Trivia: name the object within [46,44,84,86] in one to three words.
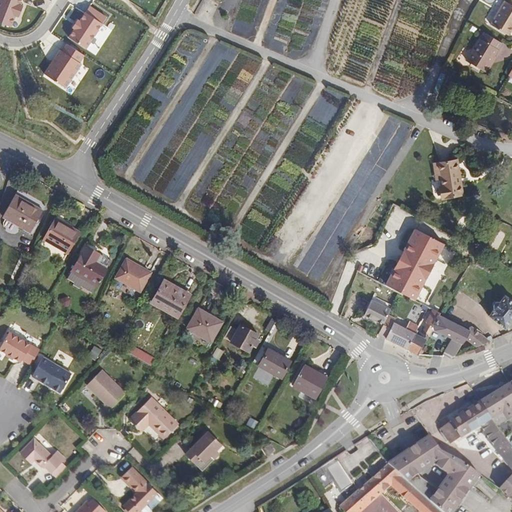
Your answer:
house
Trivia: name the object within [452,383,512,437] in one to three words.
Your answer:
house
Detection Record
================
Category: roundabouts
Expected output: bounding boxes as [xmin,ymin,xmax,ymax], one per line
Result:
[352,340,417,414]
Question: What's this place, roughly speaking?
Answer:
residential area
